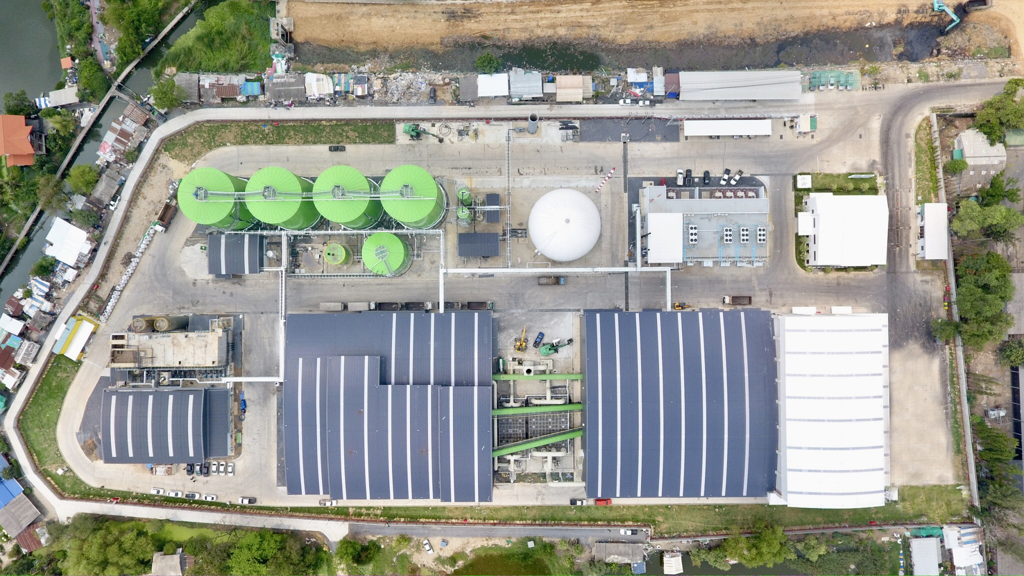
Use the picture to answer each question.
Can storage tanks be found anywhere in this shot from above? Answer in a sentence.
Yes, the picture does show a storage tank.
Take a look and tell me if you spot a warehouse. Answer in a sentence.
Yes, you can see a warehouse in this photo.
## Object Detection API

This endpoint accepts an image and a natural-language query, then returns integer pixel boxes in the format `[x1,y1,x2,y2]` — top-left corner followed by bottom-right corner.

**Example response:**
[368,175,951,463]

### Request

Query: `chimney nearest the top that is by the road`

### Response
[526,111,540,139]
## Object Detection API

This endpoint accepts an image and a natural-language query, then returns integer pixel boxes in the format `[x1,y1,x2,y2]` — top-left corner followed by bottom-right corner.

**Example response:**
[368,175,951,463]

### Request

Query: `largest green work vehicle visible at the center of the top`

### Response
[405,126,442,142]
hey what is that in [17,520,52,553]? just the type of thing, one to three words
house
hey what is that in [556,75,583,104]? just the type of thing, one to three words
shed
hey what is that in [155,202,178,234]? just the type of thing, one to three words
truck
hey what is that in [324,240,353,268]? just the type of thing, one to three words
storage tank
